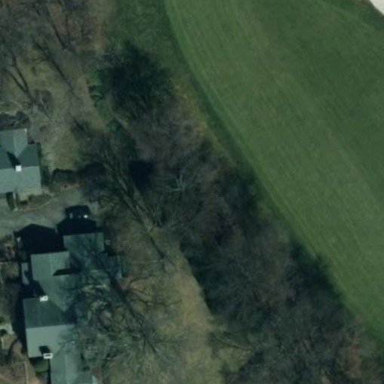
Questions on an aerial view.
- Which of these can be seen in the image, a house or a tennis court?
house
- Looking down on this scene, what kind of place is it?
golf course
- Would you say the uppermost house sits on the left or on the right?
left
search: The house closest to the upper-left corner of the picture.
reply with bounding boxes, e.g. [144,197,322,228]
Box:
[0,126,44,200]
